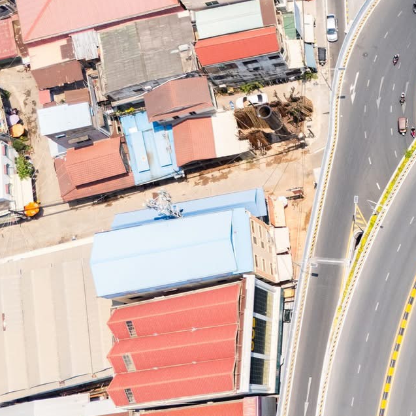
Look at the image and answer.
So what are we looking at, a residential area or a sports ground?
residential area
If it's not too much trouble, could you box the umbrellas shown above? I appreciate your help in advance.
[11,123,26,139]
[10,113,22,125]
[24,202,43,219]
